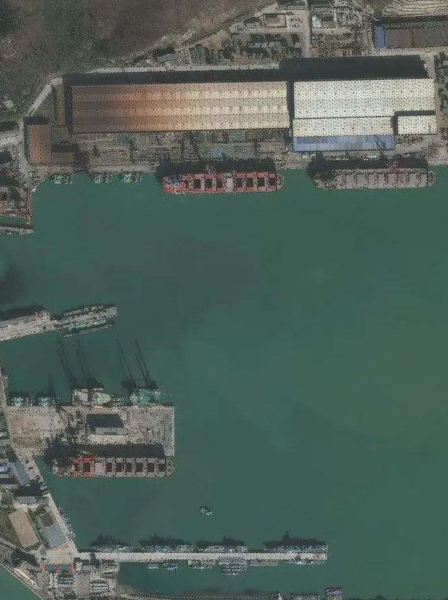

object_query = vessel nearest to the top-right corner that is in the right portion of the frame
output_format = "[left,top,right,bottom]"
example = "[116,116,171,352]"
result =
[315,168,437,189]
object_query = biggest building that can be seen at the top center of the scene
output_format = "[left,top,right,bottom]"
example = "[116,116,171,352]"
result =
[73,80,289,132]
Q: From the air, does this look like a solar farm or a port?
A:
port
